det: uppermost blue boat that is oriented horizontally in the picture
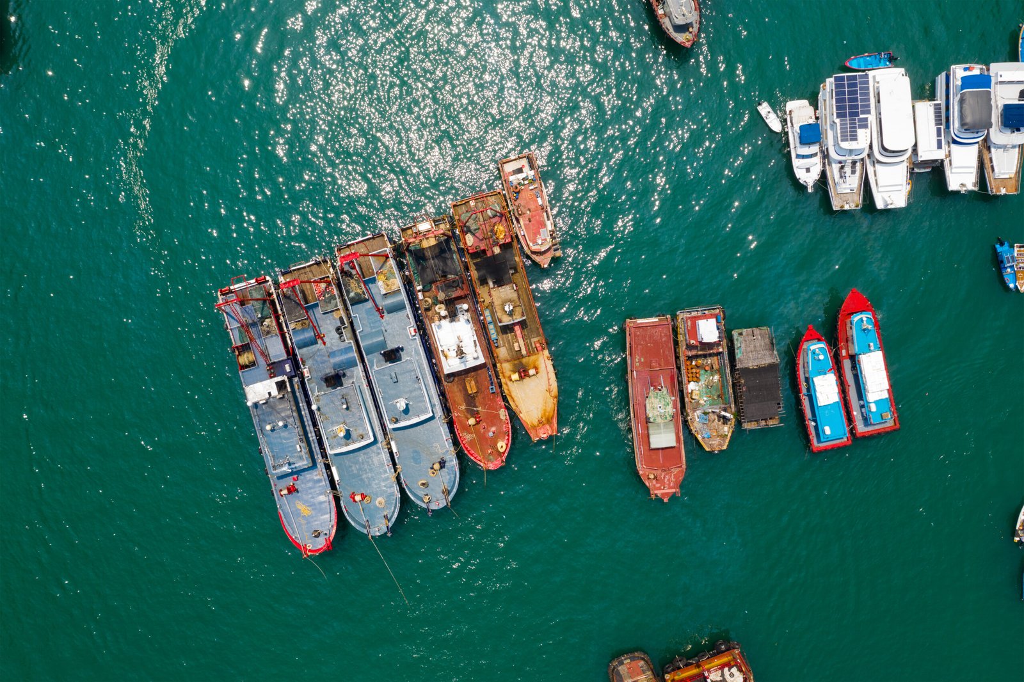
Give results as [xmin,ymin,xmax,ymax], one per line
[843,51,900,70]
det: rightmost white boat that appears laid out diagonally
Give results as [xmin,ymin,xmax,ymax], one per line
[757,98,782,133]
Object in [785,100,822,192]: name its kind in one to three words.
boat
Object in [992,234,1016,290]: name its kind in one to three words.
boat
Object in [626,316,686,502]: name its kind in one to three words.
ship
